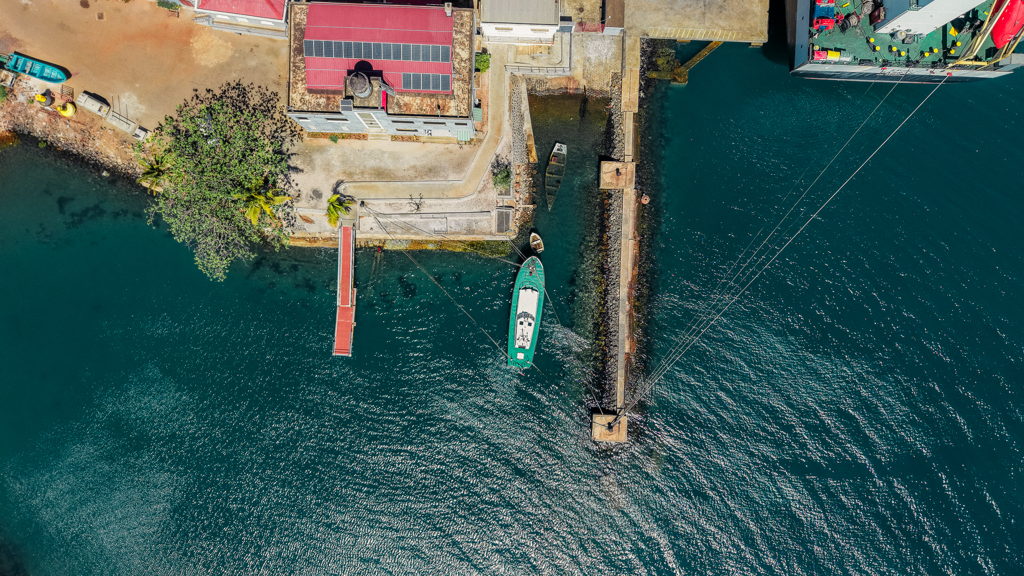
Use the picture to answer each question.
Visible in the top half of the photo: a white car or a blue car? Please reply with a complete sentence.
Looking in the top half of the photo, you will find a white car.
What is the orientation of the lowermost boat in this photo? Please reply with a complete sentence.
The lowermost boat has been laid out from top to bottom relative to the frame.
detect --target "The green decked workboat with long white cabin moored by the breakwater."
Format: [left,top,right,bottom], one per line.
[507,256,545,370]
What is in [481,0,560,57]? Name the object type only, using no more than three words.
building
